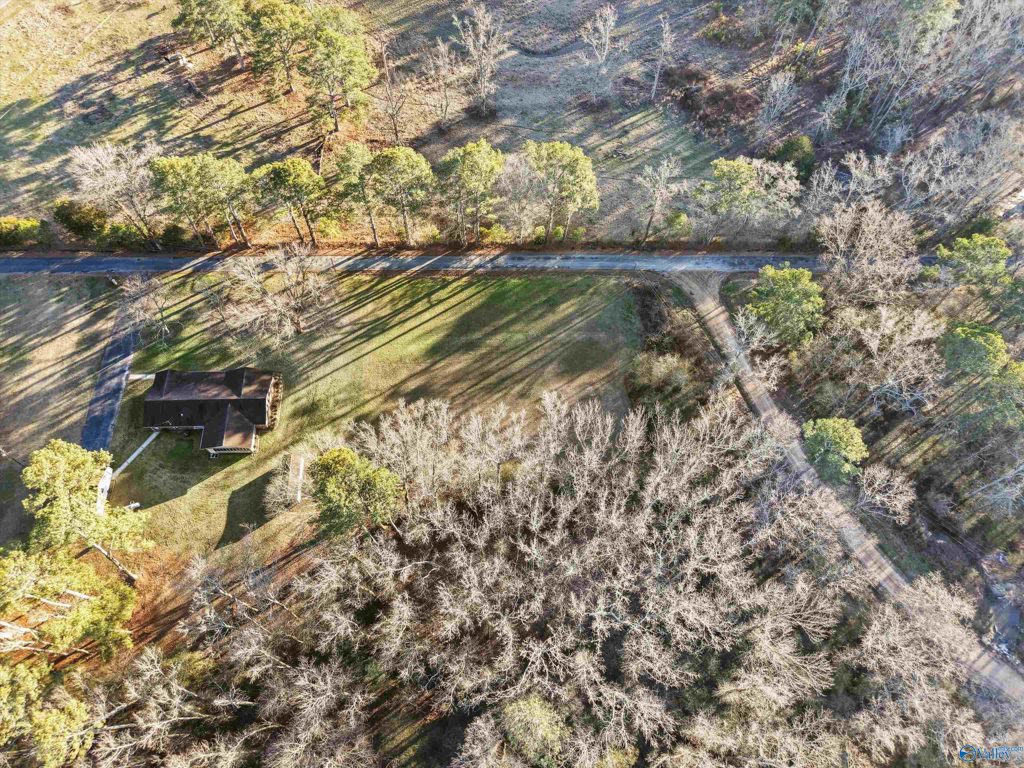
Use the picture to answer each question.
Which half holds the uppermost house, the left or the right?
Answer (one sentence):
The uppermost house sits on the left side.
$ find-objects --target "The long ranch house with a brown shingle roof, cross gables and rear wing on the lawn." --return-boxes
[142,363,278,455]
